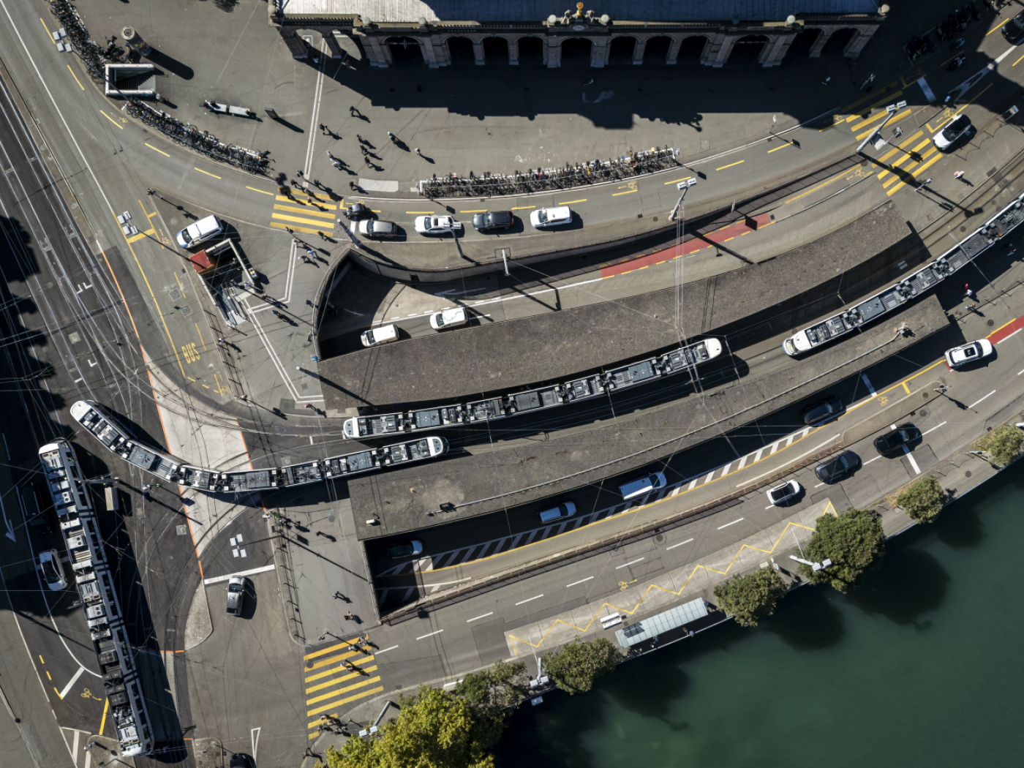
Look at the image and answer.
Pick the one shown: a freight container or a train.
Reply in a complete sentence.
There is a train in the scene.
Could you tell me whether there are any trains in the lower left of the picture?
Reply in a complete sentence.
Yes, a train can be seen in the lower left of the picture.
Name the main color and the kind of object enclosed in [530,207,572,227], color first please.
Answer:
white car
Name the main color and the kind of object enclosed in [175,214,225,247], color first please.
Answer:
white vehicle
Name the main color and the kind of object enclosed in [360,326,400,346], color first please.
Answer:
white vehicle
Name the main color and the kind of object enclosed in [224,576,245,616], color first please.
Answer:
gray car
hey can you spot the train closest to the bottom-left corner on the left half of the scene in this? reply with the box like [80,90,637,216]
[42,441,154,754]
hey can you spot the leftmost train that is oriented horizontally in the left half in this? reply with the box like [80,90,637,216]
[74,402,451,491]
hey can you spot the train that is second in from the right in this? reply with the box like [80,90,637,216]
[347,336,721,438]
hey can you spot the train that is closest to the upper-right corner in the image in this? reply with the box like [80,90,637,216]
[775,194,1024,359]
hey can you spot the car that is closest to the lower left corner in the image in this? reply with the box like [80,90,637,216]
[37,547,67,592]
